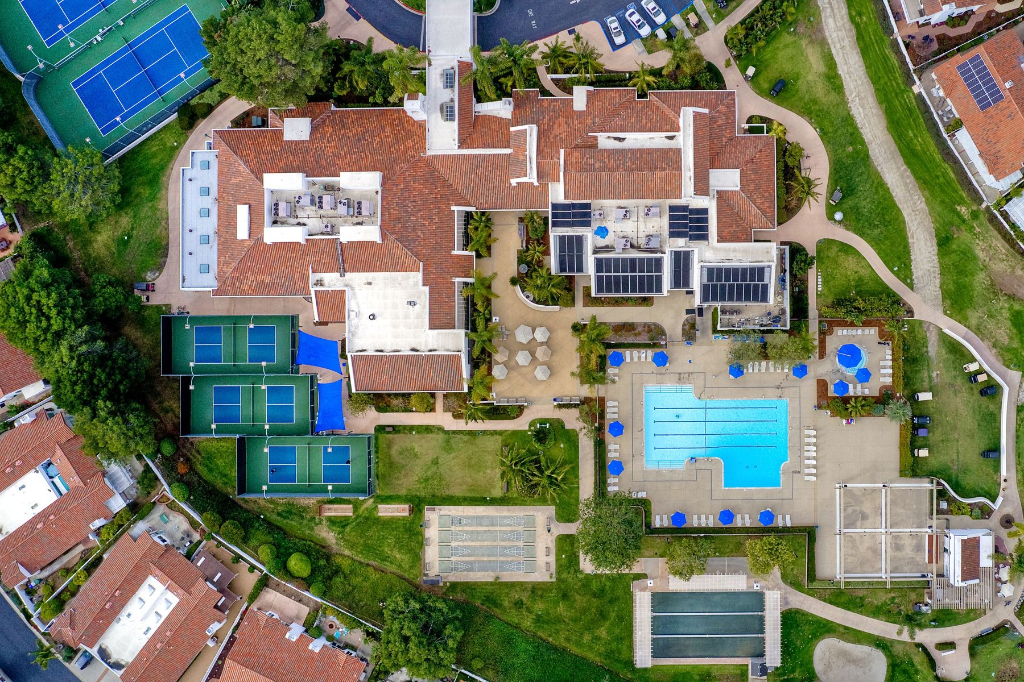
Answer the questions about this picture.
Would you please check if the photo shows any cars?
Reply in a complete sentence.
Yes, looking at the shot, I can spot a car.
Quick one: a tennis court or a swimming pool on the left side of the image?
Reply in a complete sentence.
The one visible on the left side of the image is a tennis court.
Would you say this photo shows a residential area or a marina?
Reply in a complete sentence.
The area seen from above is a residential area.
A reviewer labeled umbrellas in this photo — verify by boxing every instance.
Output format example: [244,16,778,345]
[536,346,551,361]
[832,380,848,396]
[608,421,623,437]
[718,509,734,525]
[515,325,533,343]
[608,460,623,476]
[829,212,842,221]
[653,351,667,367]
[792,362,807,379]
[854,367,871,383]
[493,347,508,361]
[492,364,508,379]
[535,326,549,342]
[516,350,531,365]
[728,363,744,378]
[995,582,1017,599]
[759,509,774,526]
[837,345,861,369]
[535,364,549,381]
[671,511,687,527]
[608,351,624,367]
[994,565,1011,582]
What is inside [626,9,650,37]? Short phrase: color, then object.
white car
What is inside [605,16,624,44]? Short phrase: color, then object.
white car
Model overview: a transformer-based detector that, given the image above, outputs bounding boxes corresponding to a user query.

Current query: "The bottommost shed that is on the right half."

[748,657,767,677]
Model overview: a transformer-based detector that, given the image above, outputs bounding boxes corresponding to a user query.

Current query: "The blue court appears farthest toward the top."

[20,0,116,45]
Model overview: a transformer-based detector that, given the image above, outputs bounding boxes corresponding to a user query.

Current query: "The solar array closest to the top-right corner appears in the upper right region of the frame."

[956,53,1005,111]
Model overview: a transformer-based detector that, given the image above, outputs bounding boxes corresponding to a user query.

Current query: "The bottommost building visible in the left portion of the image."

[218,606,367,682]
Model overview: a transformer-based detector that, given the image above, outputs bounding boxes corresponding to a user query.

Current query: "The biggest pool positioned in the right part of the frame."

[640,384,793,492]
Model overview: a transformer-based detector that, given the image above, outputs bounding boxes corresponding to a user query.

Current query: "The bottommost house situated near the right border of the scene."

[936,528,993,585]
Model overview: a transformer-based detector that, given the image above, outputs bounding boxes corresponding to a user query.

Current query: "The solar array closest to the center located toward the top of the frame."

[558,237,584,271]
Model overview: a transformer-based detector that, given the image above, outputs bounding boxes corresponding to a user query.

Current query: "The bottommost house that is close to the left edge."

[50,518,243,682]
